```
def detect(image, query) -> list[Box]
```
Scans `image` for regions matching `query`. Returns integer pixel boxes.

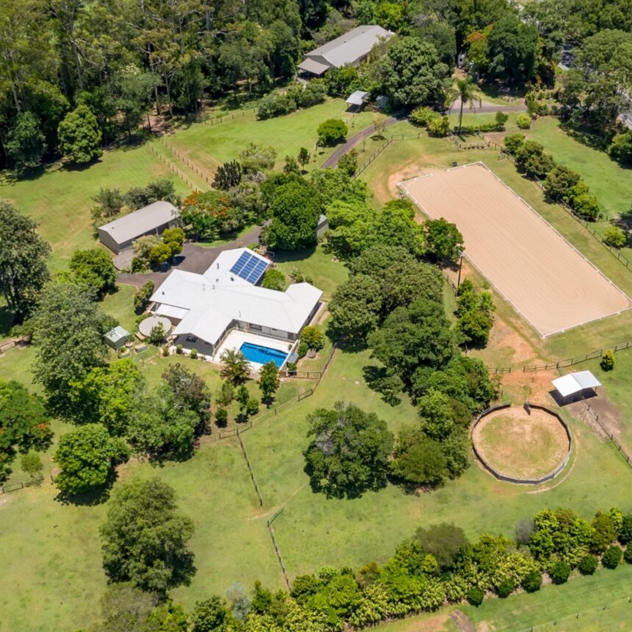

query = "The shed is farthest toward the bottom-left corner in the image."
[105,326,131,351]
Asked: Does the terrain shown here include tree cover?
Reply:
Yes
